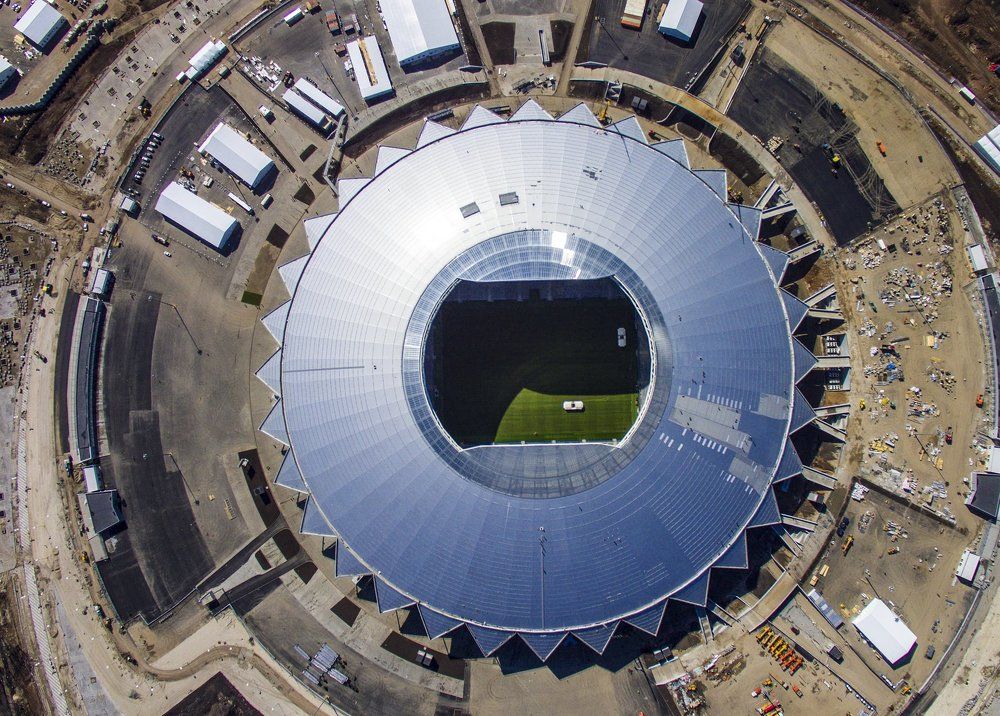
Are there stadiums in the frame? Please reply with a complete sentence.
Yes, the frame does contain a stadium.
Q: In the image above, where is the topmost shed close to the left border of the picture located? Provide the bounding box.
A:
[15,0,67,49]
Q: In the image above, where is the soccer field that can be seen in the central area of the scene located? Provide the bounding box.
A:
[428,294,643,446]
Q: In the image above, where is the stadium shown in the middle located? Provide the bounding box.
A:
[255,98,819,661]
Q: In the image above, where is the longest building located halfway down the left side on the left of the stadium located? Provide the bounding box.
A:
[75,300,104,460]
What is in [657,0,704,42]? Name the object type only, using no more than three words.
shed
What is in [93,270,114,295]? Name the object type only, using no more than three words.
building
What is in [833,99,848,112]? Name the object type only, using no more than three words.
vehicle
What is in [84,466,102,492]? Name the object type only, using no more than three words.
building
